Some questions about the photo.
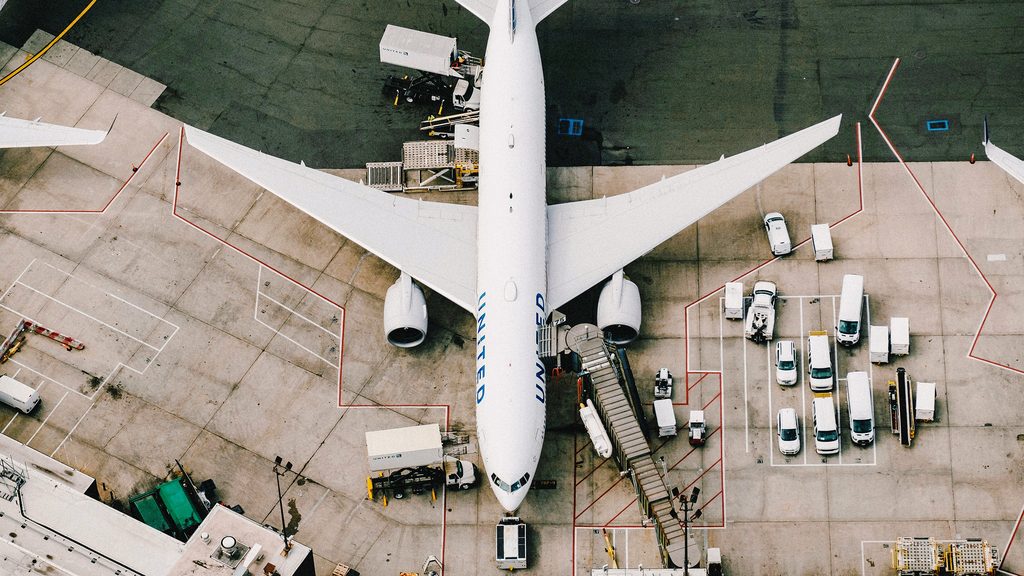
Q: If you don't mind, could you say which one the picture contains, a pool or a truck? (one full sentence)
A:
The one in the frame is a truck.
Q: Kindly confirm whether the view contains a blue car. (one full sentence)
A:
No, no blue car is visible in the view.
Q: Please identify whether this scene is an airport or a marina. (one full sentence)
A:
This image shows an airport.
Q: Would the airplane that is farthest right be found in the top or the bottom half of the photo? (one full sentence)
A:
It is in the top half that the airplane that is farthest right appears.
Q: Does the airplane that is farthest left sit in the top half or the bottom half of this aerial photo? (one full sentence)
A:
You can find the airplane that is farthest left in the top half.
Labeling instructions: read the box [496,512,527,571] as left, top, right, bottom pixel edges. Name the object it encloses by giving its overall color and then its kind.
white work vehicle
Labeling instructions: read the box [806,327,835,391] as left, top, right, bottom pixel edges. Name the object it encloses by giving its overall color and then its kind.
white van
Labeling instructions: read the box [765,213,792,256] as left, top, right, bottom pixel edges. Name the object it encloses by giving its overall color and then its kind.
white vehicle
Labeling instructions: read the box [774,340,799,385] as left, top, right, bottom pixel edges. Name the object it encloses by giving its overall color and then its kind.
white car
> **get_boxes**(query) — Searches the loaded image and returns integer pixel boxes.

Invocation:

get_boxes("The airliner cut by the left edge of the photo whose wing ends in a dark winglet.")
[0,112,118,148]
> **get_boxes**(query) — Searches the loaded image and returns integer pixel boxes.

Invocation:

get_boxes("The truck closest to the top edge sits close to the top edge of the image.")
[381,20,484,115]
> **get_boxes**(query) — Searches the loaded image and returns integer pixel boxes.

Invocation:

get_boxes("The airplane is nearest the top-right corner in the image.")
[984,117,1024,185]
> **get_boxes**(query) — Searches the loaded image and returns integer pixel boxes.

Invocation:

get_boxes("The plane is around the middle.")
[184,0,841,513]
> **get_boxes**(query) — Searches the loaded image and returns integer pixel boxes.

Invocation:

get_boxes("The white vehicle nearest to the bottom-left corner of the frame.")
[0,372,40,415]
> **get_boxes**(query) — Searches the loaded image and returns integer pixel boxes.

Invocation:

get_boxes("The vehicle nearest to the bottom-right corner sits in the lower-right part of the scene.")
[944,539,1003,576]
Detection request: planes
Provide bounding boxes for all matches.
[0,112,118,148]
[984,117,1024,185]
[184,0,841,513]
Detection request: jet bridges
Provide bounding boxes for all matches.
[539,310,700,574]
